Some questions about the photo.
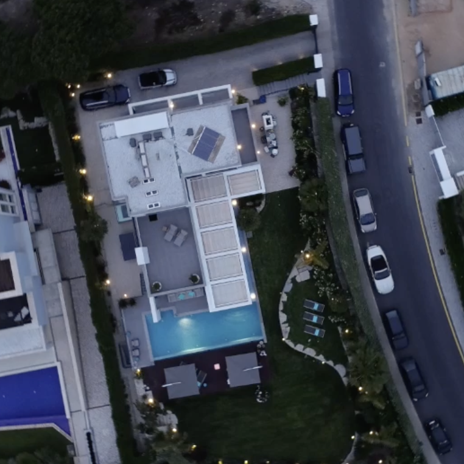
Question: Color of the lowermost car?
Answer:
black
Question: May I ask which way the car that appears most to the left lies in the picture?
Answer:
from side to side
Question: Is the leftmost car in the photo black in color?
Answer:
Yes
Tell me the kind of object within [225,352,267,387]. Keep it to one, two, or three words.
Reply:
umbrella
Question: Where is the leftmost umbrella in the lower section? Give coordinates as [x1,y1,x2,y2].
[162,364,200,399]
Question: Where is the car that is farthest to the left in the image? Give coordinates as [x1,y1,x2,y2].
[79,84,131,110]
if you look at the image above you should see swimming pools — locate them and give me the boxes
[141,221,269,365]
[0,362,73,441]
